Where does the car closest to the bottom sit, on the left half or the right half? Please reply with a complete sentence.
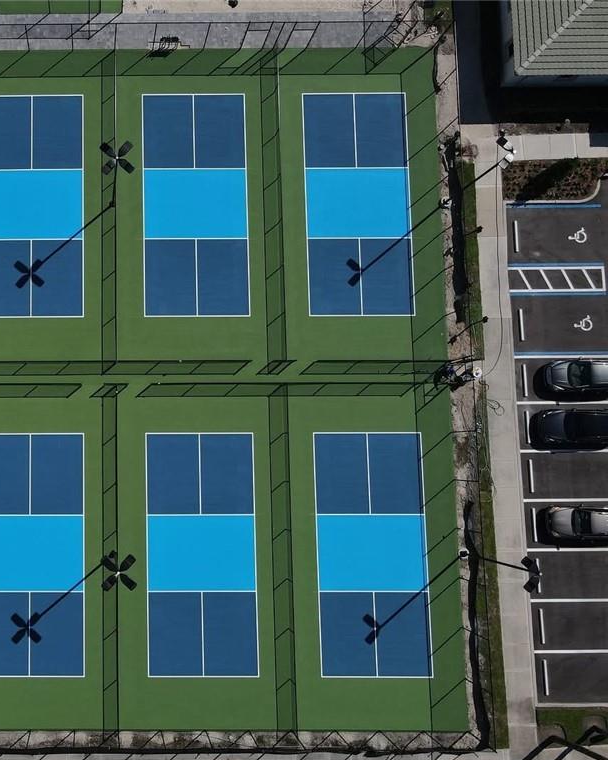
The car closest to the bottom sits on the right side.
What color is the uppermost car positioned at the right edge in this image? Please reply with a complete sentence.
The color of the uppermost car positioned at the right edge is black.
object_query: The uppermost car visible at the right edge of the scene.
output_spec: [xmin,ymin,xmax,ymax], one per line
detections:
[538,354,608,394]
